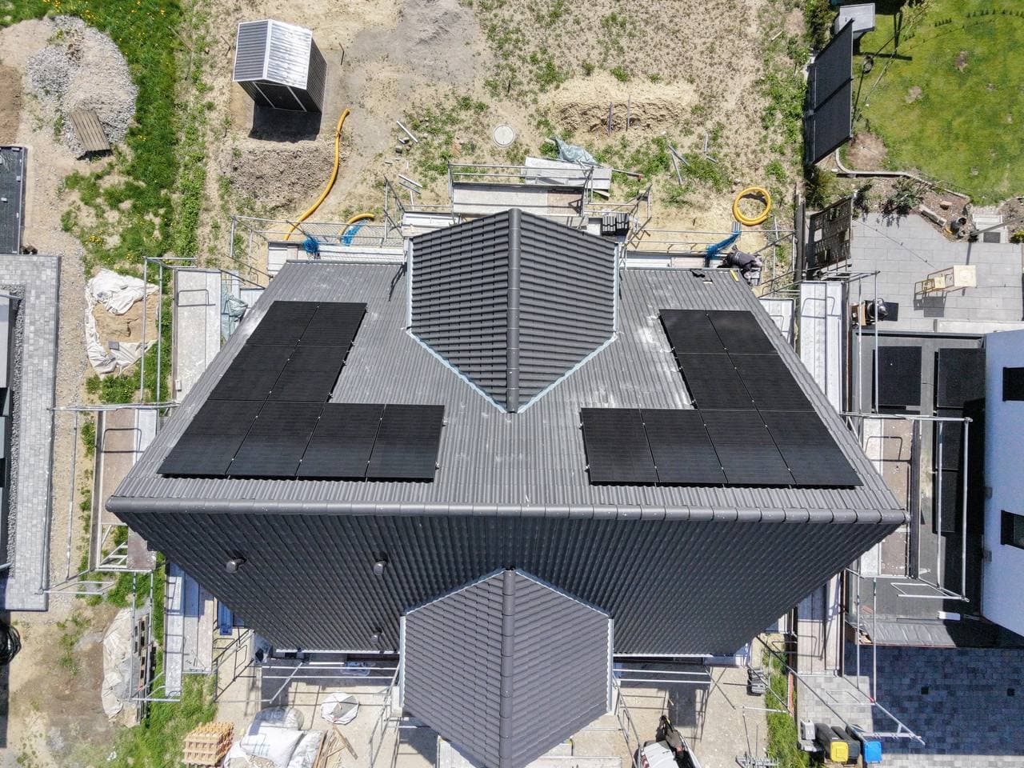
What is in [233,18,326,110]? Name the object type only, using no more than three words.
shed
